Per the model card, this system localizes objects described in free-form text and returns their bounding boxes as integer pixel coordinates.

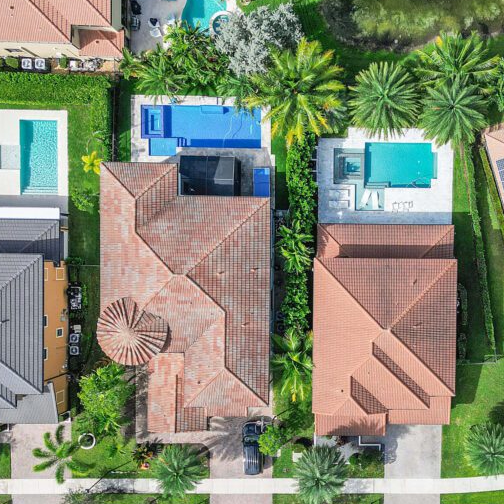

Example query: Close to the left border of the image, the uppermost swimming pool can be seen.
[0,120,58,194]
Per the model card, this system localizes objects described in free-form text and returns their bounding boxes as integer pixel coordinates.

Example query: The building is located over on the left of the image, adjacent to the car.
[96,161,274,433]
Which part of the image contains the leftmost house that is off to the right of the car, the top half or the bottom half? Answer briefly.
bottom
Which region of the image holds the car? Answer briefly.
bottom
